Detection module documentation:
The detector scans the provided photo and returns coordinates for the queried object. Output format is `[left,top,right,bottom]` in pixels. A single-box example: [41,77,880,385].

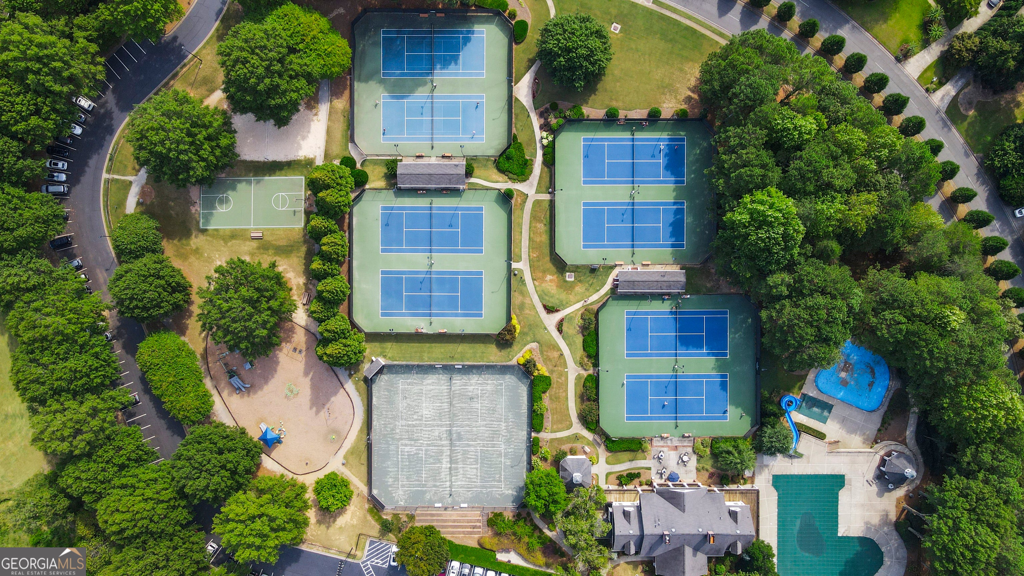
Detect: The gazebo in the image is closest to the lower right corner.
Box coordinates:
[878,449,916,484]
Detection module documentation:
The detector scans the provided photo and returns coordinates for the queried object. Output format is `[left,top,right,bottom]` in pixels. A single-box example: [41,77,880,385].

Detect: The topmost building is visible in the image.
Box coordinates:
[396,159,467,190]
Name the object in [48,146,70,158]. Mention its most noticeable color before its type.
black vehicle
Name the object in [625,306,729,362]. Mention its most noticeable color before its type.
blue tennis court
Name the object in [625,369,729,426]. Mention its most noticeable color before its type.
blue tennis court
